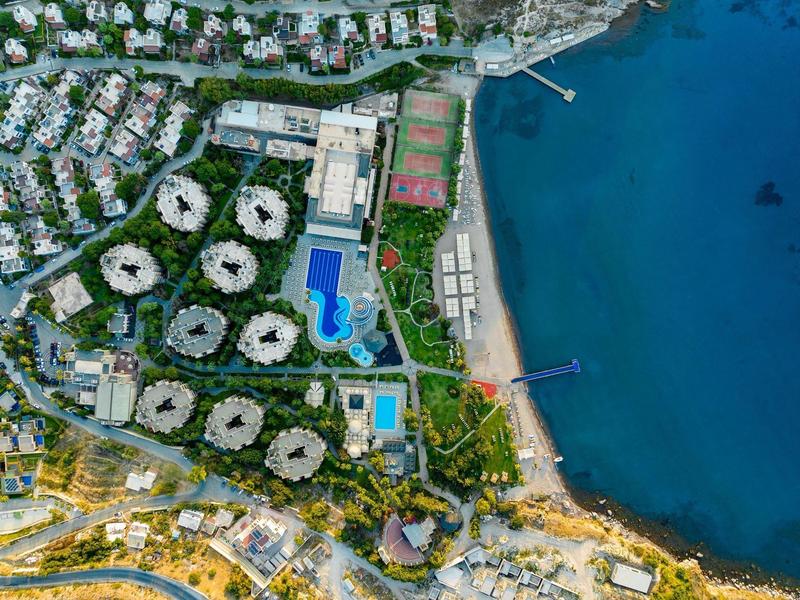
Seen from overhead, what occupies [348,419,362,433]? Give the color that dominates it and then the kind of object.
white umbrella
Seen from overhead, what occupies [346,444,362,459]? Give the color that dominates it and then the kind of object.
white umbrella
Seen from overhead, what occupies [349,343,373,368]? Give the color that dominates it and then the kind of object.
blue swimming pool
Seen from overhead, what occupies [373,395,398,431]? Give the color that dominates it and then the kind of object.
blue swimming pool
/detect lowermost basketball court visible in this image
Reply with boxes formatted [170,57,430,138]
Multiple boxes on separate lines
[388,172,450,208]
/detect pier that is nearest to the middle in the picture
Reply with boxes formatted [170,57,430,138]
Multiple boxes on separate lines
[512,360,580,384]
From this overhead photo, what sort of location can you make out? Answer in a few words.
residential area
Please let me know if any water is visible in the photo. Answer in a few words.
Yes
